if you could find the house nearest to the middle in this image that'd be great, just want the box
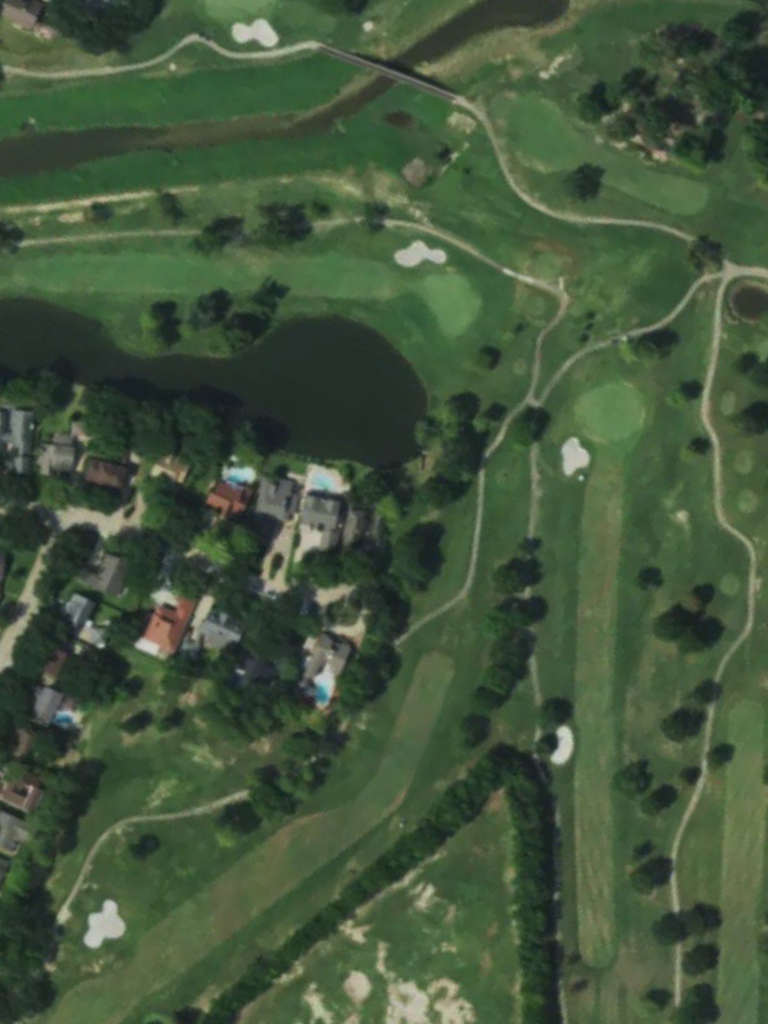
[342,502,383,545]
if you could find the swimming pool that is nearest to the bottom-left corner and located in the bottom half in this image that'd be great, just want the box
[56,709,83,727]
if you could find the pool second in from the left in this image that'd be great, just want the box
[223,466,256,485]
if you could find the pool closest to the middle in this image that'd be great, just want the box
[305,464,349,493]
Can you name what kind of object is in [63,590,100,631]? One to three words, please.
house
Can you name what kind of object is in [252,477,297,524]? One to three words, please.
house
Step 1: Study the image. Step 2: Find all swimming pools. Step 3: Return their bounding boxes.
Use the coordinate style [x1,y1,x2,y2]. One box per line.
[313,665,336,707]
[56,709,83,727]
[223,466,256,485]
[305,464,349,493]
